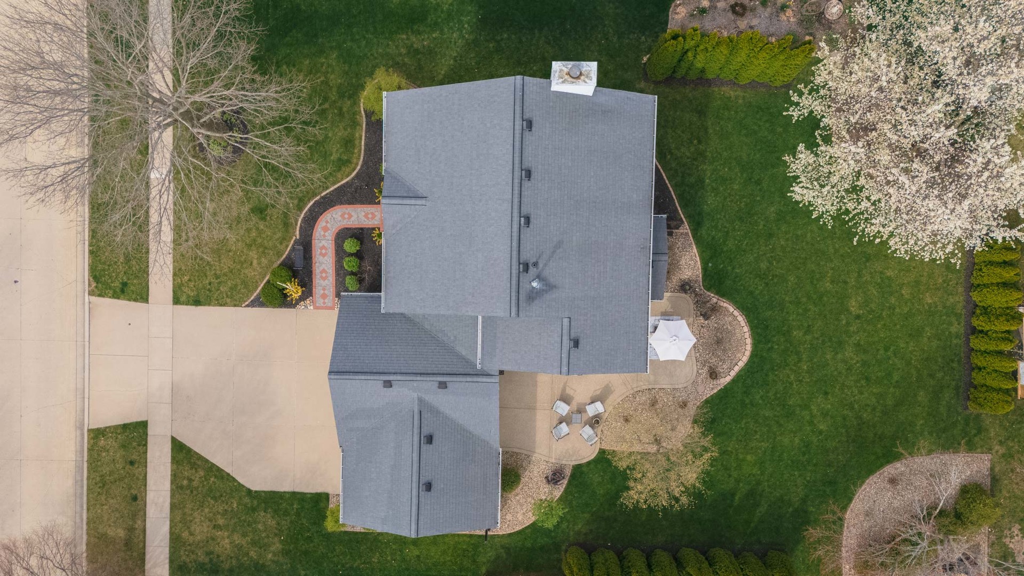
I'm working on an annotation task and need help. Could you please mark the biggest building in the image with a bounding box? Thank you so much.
[328,61,668,538]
